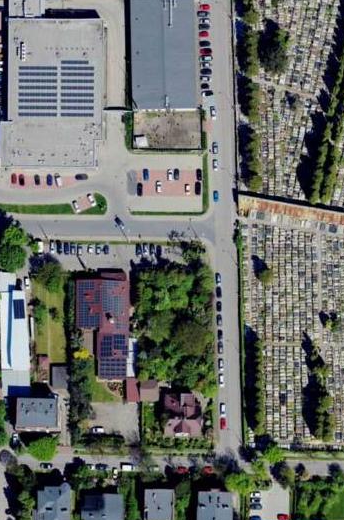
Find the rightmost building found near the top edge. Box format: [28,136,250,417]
[130,0,199,114]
